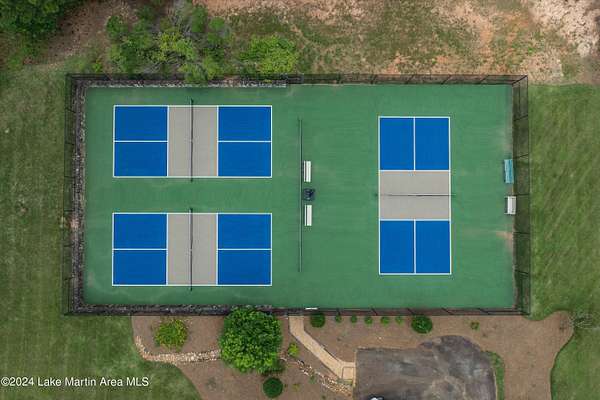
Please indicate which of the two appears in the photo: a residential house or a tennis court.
tennis court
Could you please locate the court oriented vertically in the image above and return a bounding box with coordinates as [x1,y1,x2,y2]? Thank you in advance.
[379,116,452,275]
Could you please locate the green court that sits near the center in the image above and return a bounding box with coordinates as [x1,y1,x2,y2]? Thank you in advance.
[84,84,513,307]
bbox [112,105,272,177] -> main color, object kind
blue sports court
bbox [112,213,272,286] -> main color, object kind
blue sports court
